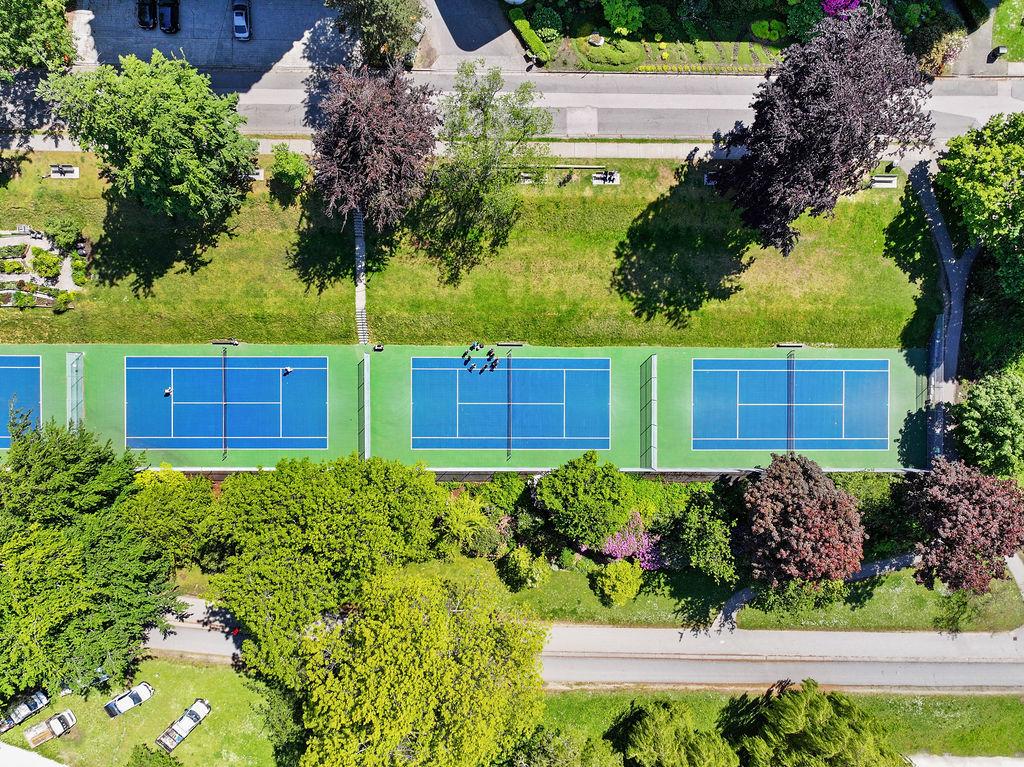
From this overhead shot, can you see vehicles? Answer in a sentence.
Yes, there's a vehicle here.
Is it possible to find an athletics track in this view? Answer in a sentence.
No, the scene contains no athletics track.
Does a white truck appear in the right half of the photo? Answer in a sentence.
No, no white truck can be made out in the right half of the photo.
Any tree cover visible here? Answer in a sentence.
Yes, the picture does contain tree cover.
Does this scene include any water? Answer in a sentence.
No, the picture contains no water.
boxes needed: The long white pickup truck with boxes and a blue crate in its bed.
[156,698,211,754]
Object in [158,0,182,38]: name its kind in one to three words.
car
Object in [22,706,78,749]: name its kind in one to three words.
truck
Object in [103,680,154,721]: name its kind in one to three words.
truck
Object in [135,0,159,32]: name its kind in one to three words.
car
